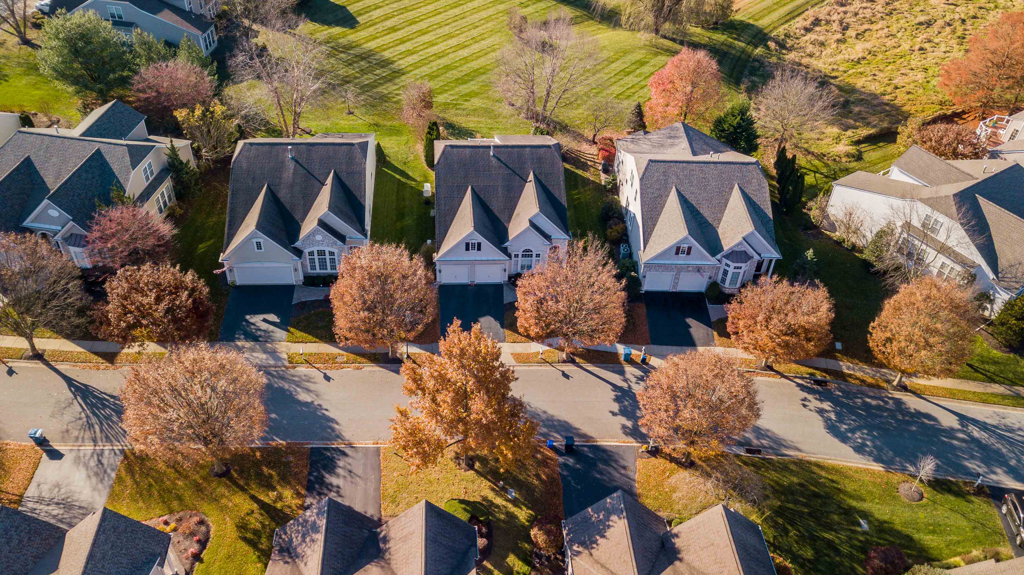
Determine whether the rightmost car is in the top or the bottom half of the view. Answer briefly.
bottom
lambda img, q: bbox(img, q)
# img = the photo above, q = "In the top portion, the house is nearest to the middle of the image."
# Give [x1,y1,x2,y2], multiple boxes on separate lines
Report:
[432,137,572,284]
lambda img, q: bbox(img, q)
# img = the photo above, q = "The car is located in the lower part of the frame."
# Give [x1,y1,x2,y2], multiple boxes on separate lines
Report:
[1001,492,1024,549]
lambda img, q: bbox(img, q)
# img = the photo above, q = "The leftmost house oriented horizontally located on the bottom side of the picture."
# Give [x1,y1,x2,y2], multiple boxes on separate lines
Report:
[0,502,174,575]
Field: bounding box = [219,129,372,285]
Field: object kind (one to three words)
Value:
house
